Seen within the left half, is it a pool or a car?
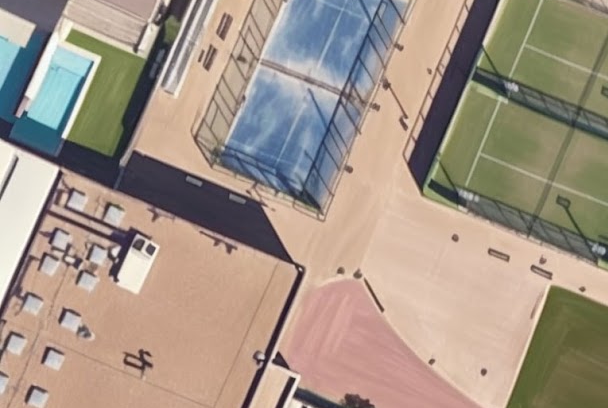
pool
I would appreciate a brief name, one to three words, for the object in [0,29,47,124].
swimming pool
